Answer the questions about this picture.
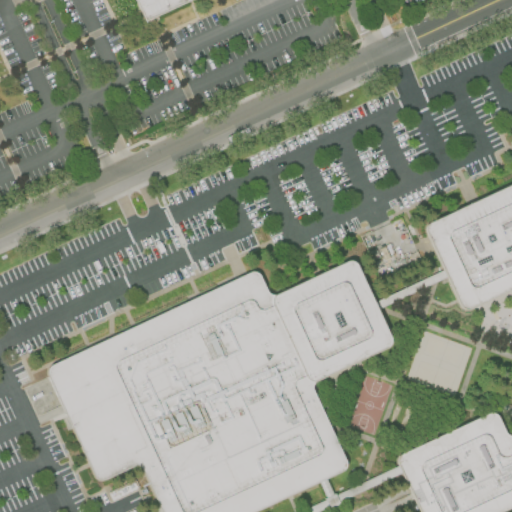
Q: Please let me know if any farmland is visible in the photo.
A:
No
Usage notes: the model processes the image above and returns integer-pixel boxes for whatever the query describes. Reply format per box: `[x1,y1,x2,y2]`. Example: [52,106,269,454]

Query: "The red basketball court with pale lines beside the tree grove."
[352,376,392,436]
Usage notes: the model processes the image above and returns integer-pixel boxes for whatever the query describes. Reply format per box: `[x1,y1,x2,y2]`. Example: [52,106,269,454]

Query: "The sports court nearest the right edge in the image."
[410,332,472,392]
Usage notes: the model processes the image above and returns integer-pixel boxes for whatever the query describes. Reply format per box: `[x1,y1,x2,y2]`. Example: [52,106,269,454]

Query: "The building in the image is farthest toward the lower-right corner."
[397,414,512,512]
